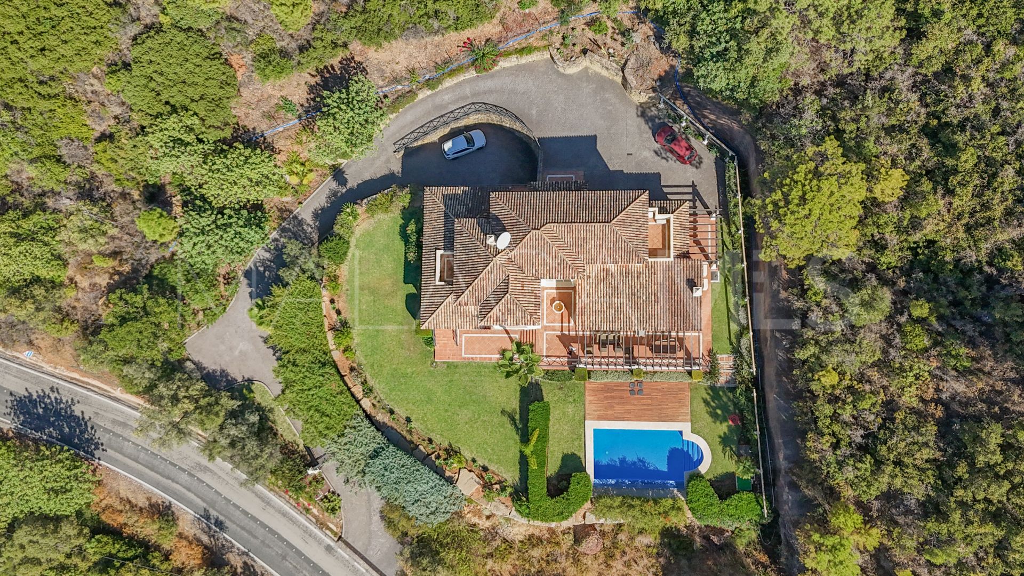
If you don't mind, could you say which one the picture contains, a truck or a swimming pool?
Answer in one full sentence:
Of the two, only a swimming pool appears.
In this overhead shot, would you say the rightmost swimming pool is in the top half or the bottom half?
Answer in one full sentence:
You can find the rightmost swimming pool in the bottom half.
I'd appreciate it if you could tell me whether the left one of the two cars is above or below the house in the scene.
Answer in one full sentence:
Within the scene, the left one of the two cars can be found above the house.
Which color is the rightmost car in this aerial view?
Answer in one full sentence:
The rightmost car is red.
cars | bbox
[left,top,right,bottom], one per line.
[438,127,489,163]
[652,124,700,166]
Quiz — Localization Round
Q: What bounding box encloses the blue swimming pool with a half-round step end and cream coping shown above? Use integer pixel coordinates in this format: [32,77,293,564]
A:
[585,421,711,497]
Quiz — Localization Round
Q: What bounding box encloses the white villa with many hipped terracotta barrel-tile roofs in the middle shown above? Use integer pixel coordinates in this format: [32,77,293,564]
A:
[419,180,703,335]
